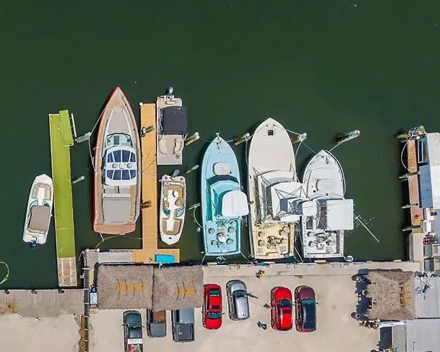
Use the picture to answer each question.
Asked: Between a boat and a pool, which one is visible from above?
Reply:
boat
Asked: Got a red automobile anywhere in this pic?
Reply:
Yes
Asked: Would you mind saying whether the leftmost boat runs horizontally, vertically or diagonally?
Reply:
vertically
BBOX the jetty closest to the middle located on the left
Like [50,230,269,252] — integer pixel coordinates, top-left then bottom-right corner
[131,103,179,264]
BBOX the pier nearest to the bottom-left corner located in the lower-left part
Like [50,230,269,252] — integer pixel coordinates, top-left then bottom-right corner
[0,289,84,309]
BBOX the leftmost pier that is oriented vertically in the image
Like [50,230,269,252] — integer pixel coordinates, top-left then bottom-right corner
[49,113,77,286]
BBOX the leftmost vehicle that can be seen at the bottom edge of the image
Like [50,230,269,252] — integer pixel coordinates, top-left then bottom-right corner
[121,310,144,352]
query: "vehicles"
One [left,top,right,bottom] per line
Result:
[199,282,225,329]
[121,310,144,352]
[144,304,169,344]
[224,279,256,320]
[265,285,294,330]
[170,309,194,345]
[292,285,318,331]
